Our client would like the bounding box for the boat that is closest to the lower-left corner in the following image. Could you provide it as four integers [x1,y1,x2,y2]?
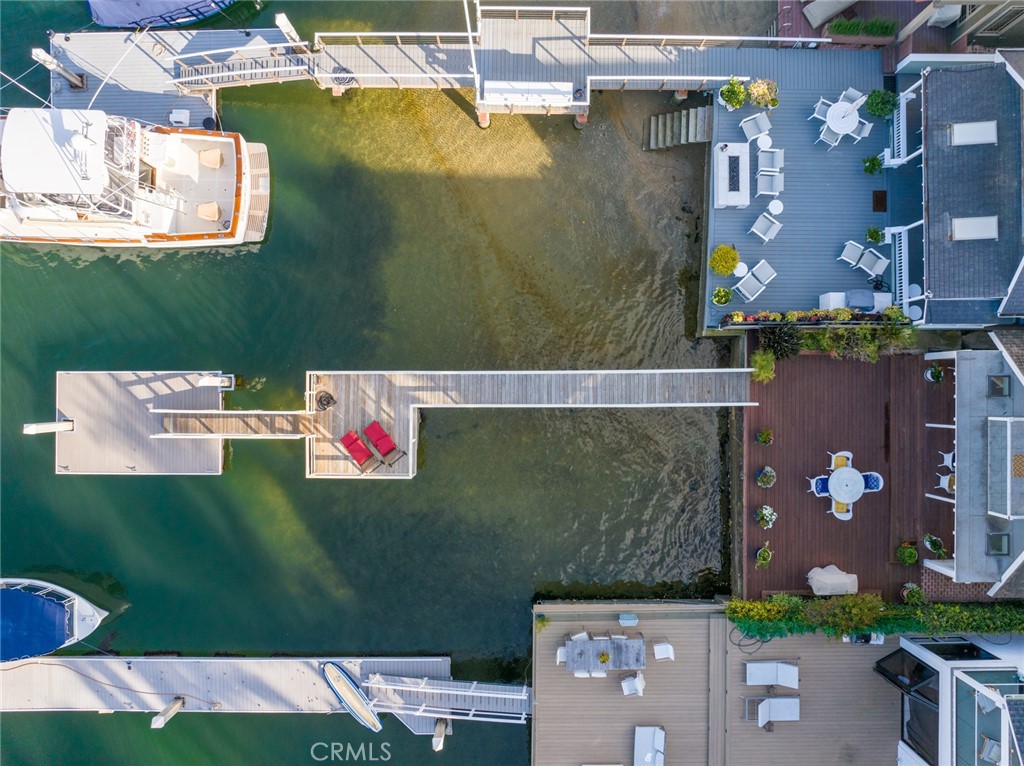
[0,576,108,662]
